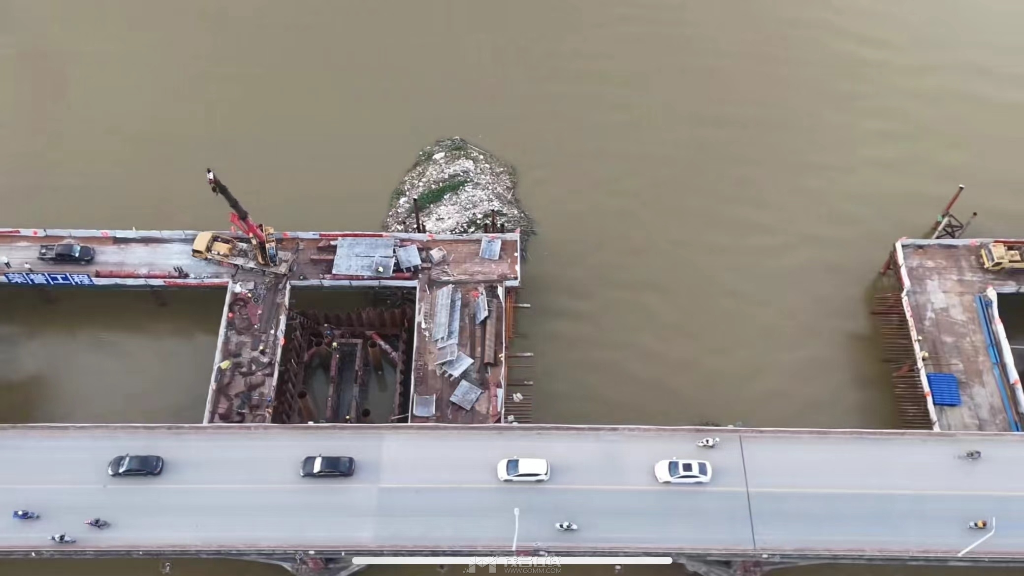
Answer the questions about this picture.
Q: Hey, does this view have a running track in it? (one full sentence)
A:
No, no running track is visible in the view.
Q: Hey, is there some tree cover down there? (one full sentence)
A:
No, the scene doesn't show any tree cover.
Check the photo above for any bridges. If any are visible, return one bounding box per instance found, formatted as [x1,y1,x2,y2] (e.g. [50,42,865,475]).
[0,422,1024,576]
